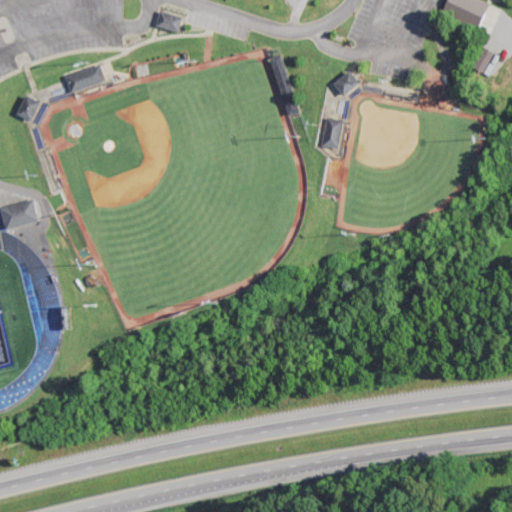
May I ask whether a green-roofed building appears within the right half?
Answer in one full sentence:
No, no green-roofed building appears within the right half.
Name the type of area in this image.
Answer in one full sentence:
The area seen from above is a sports ground.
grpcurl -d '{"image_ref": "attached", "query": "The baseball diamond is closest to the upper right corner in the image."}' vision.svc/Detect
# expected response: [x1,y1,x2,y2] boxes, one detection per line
[337,90,488,236]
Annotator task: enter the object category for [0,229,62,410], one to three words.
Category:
running track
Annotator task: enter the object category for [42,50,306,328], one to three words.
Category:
baseball field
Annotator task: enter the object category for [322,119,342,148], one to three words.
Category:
building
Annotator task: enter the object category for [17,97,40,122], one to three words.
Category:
building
